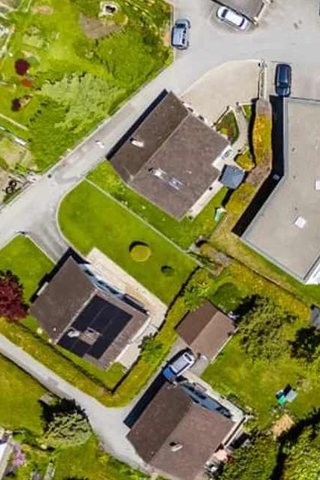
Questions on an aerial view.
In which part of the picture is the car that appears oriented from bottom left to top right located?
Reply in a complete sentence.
The car that appears oriented from bottom left to top right appears toward the bottom of the photo.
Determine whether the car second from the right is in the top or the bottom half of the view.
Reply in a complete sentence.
The top half of the photo is where the car second from the right is.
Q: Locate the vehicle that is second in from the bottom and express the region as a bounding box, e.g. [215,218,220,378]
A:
[275,64,293,98]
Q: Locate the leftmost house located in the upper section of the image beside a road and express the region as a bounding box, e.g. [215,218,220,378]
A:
[107,90,239,222]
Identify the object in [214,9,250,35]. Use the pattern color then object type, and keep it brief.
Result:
white car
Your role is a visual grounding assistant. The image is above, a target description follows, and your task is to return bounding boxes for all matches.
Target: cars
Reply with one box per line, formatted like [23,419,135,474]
[163,348,200,382]
[173,18,191,51]
[275,64,293,98]
[214,9,250,35]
